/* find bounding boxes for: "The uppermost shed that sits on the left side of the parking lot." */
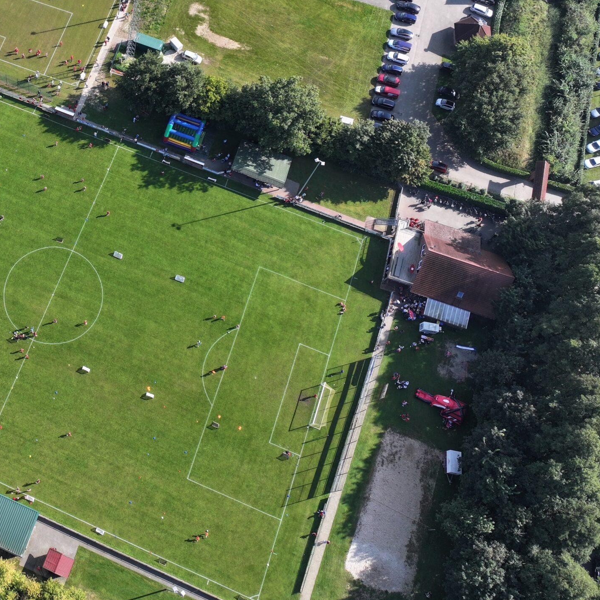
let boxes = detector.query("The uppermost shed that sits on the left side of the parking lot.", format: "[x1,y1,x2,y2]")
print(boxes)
[133,32,164,57]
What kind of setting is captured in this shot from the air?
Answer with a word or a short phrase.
sports ground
